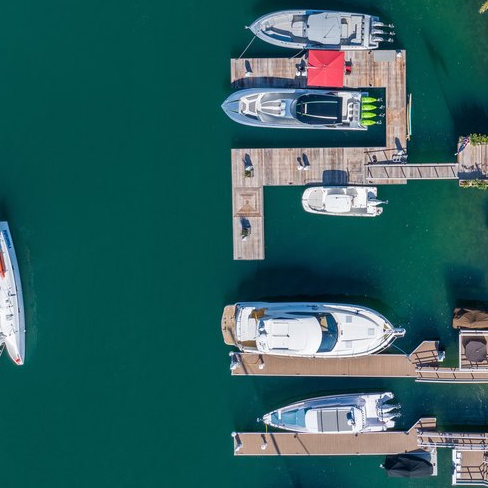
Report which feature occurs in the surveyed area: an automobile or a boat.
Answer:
boat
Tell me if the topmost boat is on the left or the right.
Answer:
right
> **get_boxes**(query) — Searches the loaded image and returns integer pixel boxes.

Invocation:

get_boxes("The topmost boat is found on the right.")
[246,9,394,49]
